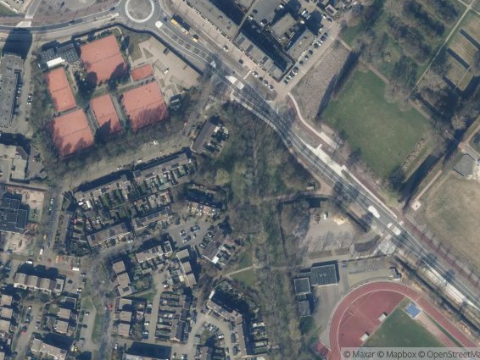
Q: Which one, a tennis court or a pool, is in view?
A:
tennis court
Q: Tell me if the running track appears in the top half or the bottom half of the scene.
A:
bottom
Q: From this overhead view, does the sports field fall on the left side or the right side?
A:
right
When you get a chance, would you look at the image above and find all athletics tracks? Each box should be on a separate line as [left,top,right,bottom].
[328,281,480,360]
